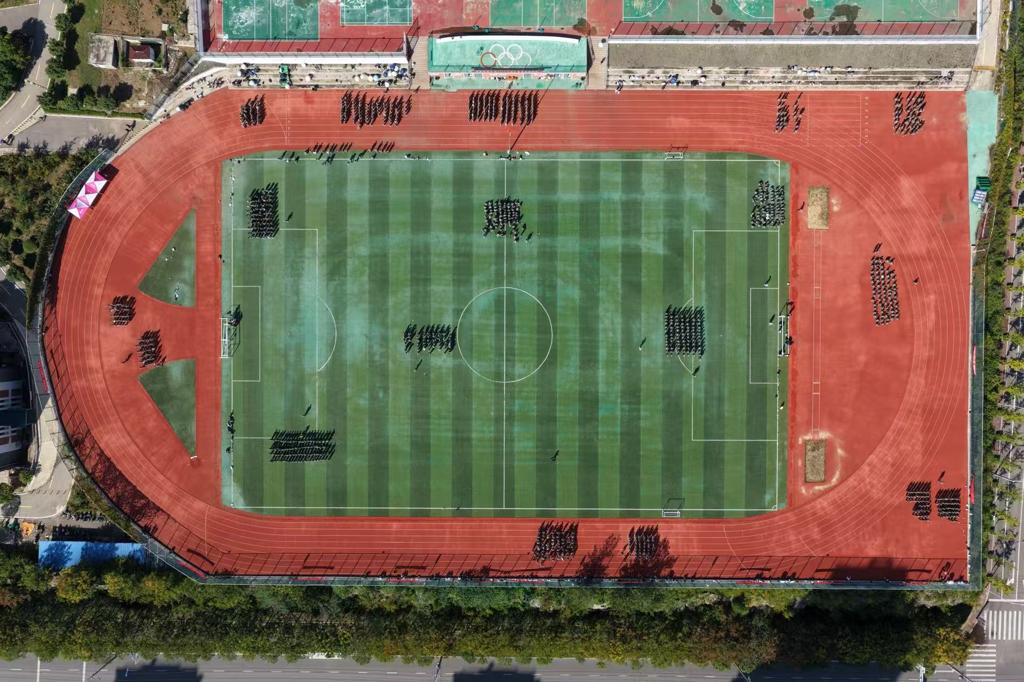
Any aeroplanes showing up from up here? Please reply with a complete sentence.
No, the photo shows no aeroplane.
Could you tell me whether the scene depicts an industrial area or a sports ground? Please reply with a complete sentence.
What you see here is a sports ground.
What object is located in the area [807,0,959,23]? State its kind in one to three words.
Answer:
basketball court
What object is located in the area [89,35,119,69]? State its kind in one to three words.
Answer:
shed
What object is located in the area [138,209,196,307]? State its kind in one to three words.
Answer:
sports field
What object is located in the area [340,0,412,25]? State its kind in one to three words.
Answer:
sports court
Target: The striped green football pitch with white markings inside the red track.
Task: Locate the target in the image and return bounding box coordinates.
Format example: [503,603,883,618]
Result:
[221,151,789,518]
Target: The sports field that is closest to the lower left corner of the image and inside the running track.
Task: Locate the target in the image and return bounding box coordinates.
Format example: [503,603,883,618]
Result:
[138,358,195,457]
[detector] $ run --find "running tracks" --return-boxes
[42,89,970,582]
